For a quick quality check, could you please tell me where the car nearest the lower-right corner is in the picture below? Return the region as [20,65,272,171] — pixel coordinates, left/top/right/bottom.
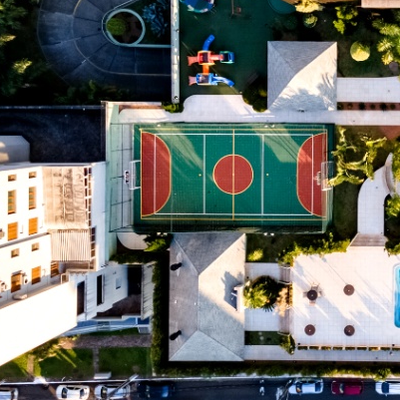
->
[375,382,400,396]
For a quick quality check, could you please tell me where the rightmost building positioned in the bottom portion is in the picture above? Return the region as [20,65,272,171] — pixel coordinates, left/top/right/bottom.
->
[166,233,256,361]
